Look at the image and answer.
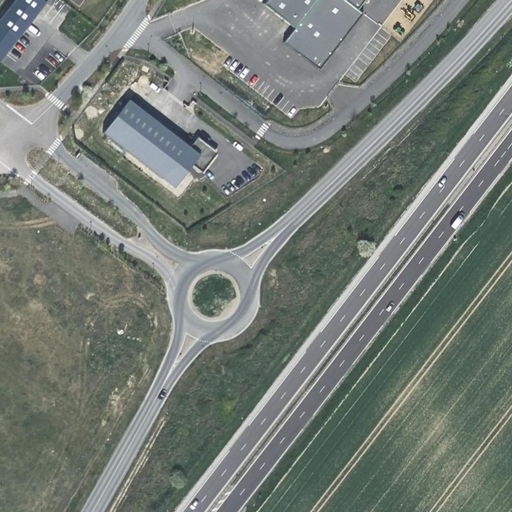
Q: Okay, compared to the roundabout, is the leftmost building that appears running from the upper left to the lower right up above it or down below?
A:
above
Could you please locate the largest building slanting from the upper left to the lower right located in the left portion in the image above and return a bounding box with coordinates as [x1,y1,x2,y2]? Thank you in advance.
[104,99,200,187]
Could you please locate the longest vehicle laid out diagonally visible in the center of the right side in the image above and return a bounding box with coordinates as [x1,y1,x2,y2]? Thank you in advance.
[452,212,466,228]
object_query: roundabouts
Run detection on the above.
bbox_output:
[129,228,274,374]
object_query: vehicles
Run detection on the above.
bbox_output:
[234,64,244,74]
[35,70,46,80]
[288,107,296,117]
[48,56,57,66]
[149,83,161,94]
[206,170,214,180]
[54,52,64,62]
[230,60,238,70]
[224,56,233,66]
[242,170,252,180]
[190,498,198,509]
[438,176,448,186]
[250,74,258,85]
[226,182,236,192]
[240,68,249,78]
[231,179,240,188]
[385,302,394,312]
[220,184,230,194]
[20,36,29,46]
[274,94,282,104]
[39,63,49,74]
[236,175,246,186]
[452,212,466,228]
[16,42,25,52]
[232,142,244,152]
[28,24,40,36]
[11,48,20,58]
[158,389,166,400]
